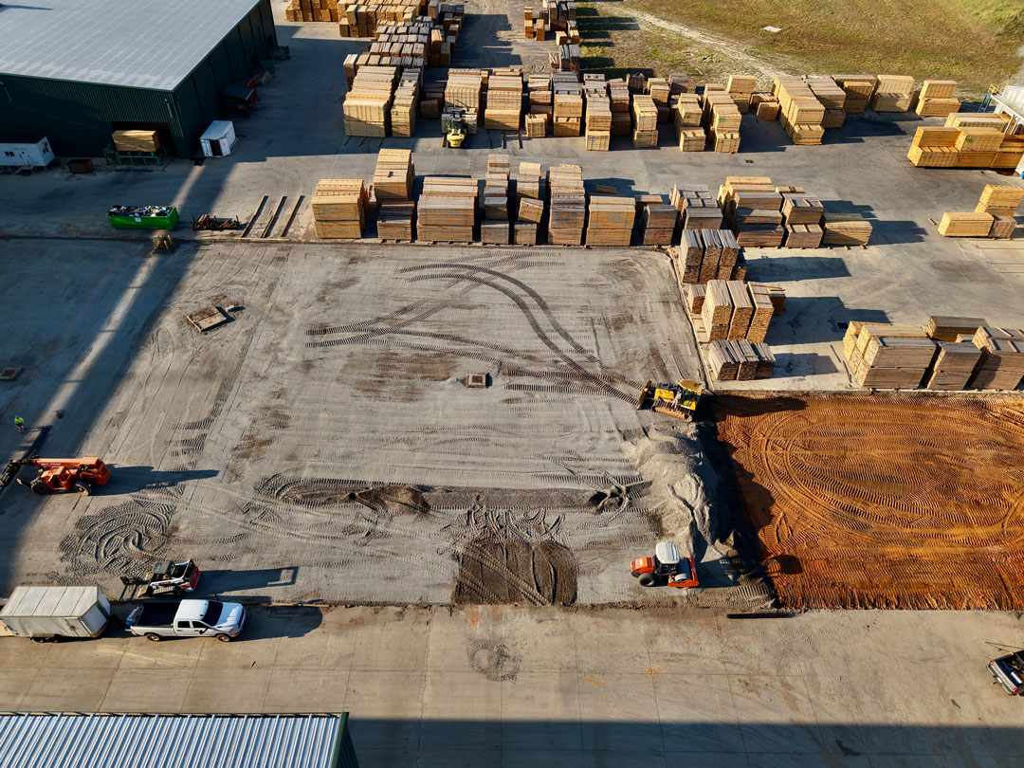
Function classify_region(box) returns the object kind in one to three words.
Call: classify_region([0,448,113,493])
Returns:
work vehicle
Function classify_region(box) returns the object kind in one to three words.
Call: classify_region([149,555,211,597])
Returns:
work vehicle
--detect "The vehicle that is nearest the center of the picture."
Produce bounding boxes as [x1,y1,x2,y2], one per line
[637,378,706,426]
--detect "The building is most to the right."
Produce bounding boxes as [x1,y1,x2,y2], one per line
[982,74,1024,131]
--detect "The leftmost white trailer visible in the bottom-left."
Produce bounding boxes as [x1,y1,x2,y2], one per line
[0,577,127,639]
